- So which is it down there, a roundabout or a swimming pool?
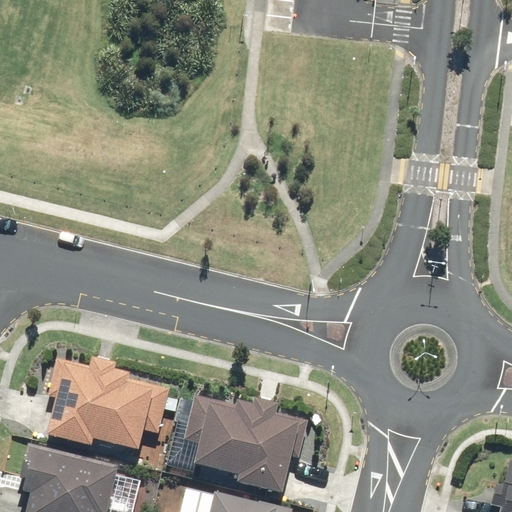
roundabout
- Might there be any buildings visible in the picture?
Yes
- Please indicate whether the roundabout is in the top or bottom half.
bottom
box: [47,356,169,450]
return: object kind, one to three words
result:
house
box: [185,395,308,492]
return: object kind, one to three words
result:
house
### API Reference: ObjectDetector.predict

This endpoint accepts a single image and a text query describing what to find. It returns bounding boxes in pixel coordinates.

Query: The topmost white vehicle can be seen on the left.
[58,232,84,248]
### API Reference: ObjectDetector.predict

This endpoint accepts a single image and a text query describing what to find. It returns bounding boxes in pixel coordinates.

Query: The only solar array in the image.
[53,378,76,418]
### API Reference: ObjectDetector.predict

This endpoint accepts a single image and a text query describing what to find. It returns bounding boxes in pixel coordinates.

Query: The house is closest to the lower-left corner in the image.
[16,443,118,512]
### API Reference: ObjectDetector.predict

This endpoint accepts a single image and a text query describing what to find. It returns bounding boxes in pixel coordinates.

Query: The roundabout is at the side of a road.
[390,324,458,392]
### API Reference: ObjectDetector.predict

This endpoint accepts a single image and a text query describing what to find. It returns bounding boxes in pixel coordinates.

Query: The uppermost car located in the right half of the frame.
[296,466,329,484]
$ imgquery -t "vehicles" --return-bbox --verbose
[464,501,498,512]
[296,466,329,484]
[0,220,16,234]
[58,232,84,248]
